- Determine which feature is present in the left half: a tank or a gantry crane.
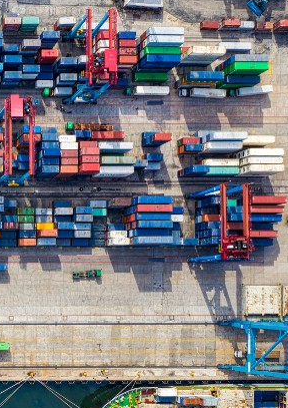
gantry crane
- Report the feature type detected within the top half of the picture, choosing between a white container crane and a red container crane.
red container crane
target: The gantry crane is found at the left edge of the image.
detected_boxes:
[0,88,39,184]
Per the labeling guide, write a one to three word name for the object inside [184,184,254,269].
container crane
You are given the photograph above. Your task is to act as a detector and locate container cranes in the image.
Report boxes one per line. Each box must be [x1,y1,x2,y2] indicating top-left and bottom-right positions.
[62,7,119,103]
[0,88,39,184]
[184,184,254,269]
[220,317,288,383]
